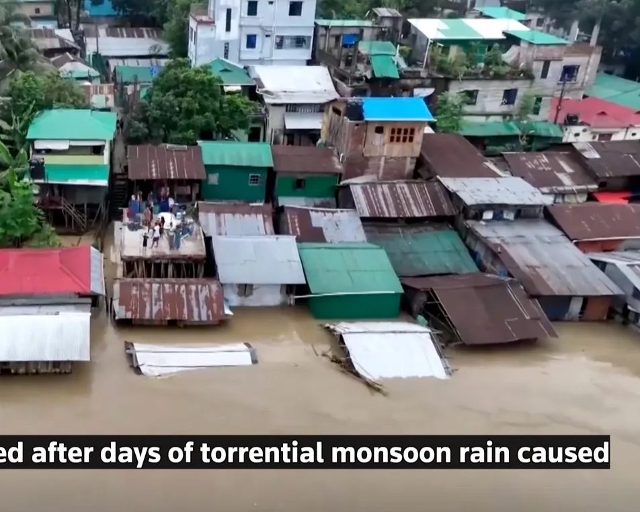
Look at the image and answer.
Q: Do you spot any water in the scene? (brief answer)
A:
Yes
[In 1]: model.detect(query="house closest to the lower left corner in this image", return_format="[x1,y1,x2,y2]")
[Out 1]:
[0,303,91,373]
